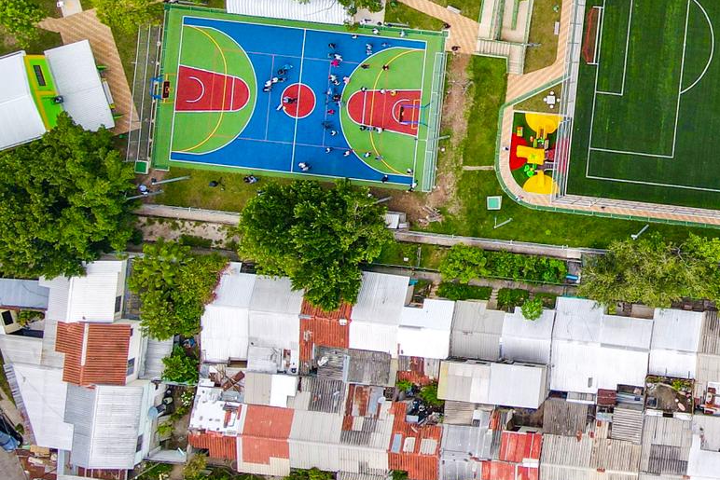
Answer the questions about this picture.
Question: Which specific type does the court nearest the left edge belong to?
basketball court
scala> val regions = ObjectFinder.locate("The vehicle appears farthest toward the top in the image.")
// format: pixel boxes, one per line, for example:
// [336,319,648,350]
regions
[0,417,26,457]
